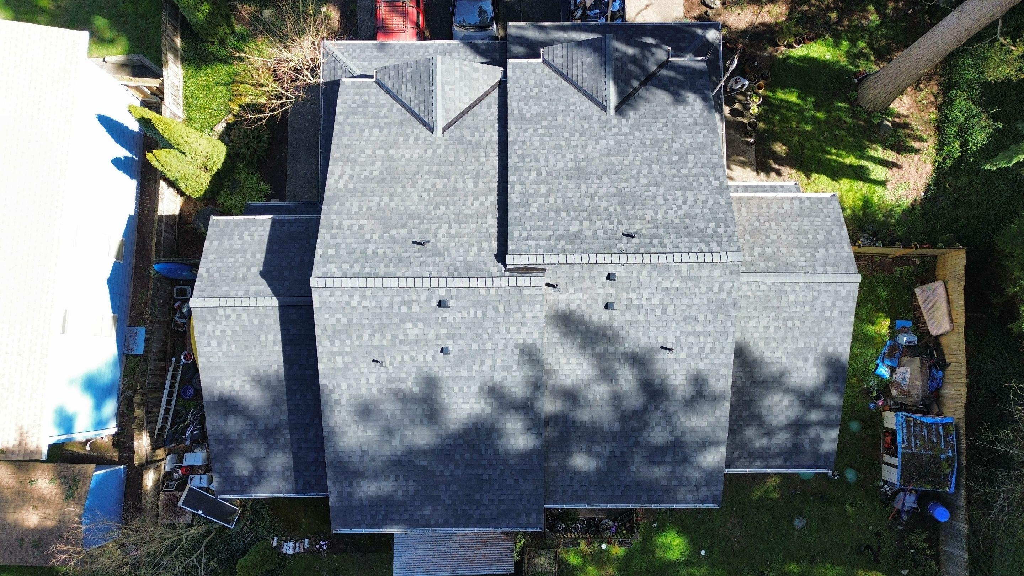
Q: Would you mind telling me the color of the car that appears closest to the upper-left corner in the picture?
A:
red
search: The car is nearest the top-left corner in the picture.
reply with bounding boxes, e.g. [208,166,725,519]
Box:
[377,0,424,39]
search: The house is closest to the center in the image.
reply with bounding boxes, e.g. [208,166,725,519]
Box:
[189,21,862,534]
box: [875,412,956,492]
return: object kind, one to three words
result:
shed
